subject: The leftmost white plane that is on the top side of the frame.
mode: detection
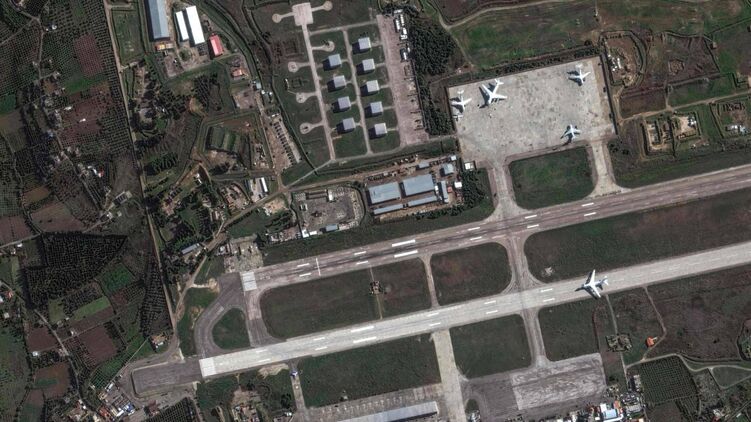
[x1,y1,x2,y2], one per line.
[453,90,472,112]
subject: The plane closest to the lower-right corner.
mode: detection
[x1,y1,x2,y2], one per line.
[582,269,610,297]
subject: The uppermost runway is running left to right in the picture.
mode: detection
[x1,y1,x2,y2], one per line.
[240,163,751,295]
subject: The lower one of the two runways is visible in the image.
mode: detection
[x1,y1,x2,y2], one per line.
[199,240,751,381]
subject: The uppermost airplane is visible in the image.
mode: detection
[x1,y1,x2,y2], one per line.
[569,62,593,85]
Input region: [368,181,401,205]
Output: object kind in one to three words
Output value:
hangar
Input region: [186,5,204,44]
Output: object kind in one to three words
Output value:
shed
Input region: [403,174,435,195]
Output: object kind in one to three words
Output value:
hangar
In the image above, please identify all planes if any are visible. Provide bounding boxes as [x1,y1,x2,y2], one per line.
[453,90,472,112]
[582,269,610,297]
[565,124,581,140]
[482,77,508,104]
[569,62,593,85]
